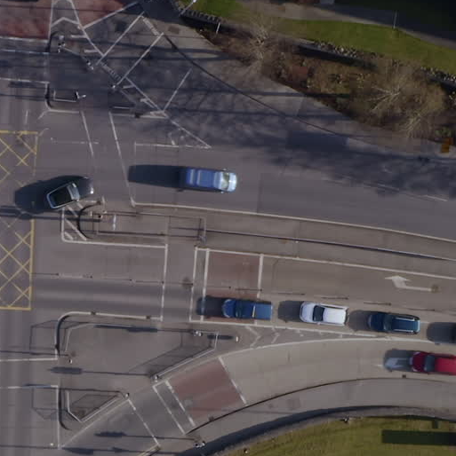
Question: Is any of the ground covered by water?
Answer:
No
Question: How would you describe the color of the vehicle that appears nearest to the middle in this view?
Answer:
blue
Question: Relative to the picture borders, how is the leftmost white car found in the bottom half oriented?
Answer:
from left to right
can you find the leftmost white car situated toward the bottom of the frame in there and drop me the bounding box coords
[298,302,347,325]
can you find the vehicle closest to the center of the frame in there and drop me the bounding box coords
[180,168,235,192]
